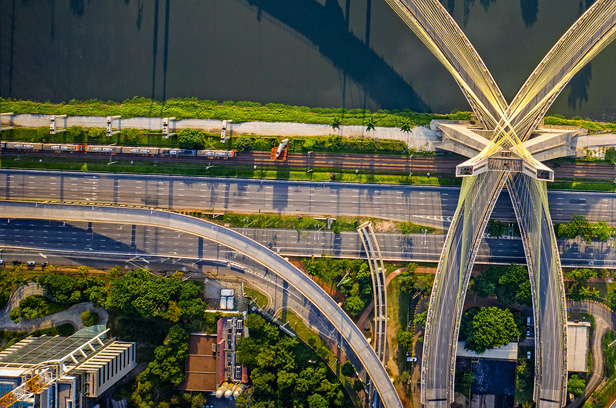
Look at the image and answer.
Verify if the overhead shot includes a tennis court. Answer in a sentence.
No, no tennis court can be seen from above.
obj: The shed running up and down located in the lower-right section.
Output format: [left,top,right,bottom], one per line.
[567,319,591,371]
